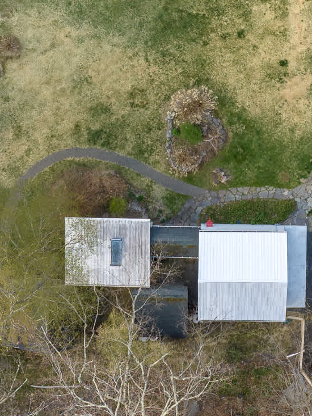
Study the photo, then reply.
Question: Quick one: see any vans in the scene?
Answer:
No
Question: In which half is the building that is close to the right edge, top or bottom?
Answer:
bottom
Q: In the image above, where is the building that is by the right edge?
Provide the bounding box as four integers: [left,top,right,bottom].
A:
[197,220,306,323]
